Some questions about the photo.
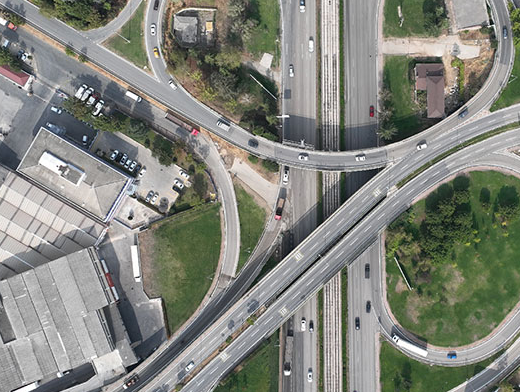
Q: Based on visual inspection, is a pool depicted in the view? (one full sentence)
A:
No, the scene contains no pool.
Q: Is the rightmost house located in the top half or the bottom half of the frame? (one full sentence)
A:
Seen from above, the rightmost house lies in the top half of the view.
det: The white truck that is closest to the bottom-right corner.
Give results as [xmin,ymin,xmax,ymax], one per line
[390,333,428,357]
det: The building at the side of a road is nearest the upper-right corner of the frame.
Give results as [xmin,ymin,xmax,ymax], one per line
[449,0,491,33]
